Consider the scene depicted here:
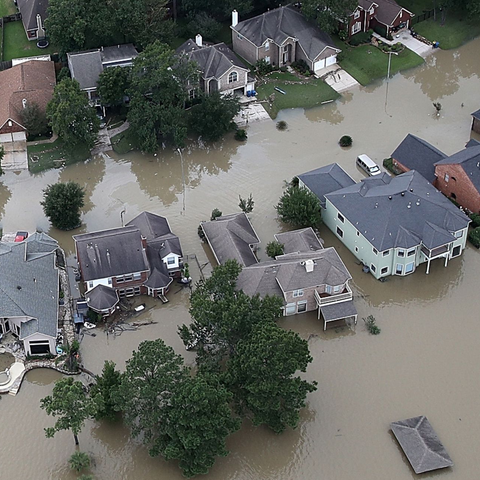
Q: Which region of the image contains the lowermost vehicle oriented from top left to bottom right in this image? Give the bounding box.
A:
[353,148,381,172]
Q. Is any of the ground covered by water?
Yes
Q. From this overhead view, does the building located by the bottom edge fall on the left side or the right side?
right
